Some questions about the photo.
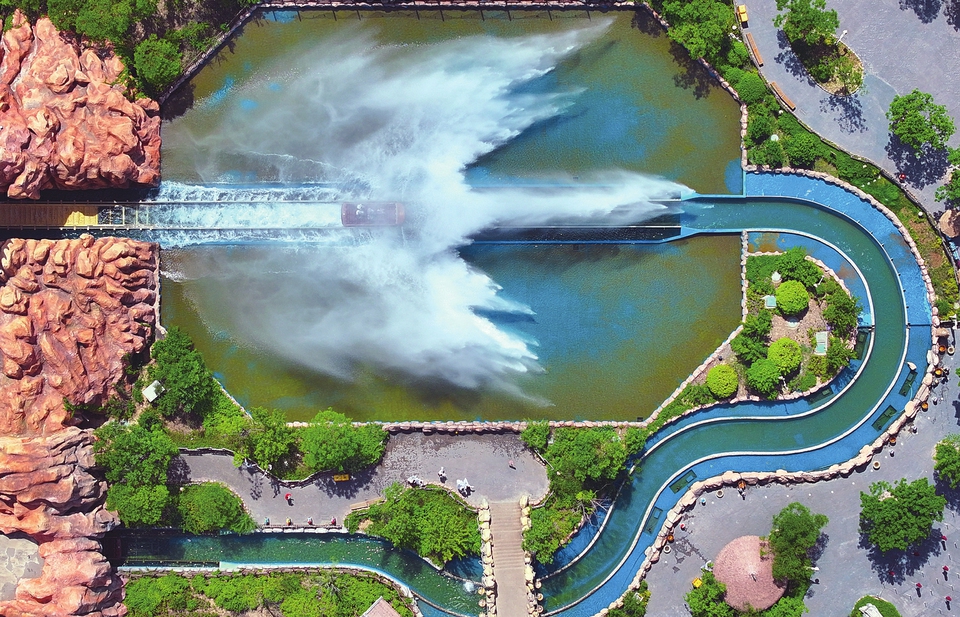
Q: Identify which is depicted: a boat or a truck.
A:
boat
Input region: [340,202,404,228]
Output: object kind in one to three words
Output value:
boat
